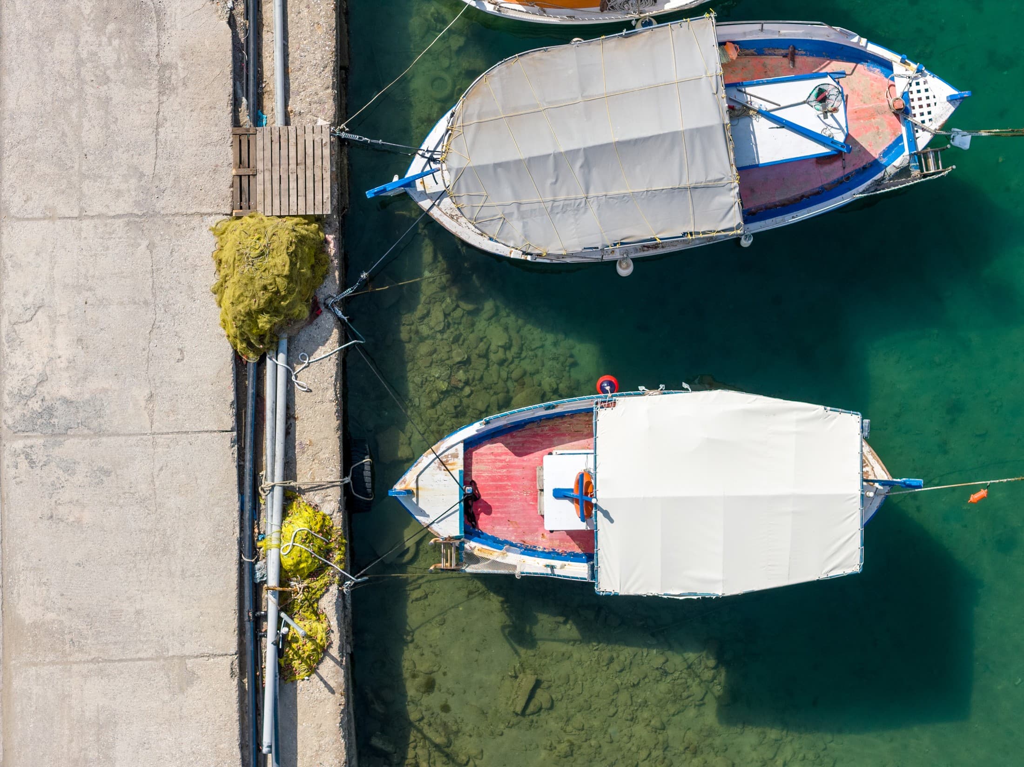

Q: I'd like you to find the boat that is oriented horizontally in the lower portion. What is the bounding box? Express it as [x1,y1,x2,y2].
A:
[386,389,922,600]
